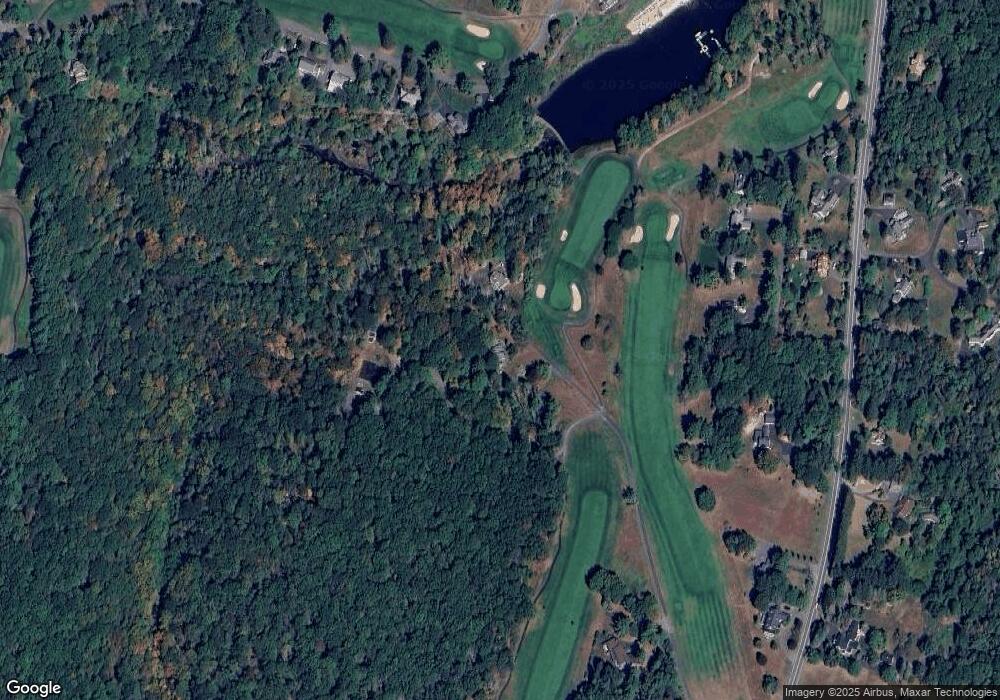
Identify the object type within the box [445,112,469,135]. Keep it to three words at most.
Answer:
house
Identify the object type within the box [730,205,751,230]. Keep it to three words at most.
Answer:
house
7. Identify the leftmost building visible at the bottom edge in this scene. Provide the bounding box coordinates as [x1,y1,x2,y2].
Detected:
[603,634,646,667]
